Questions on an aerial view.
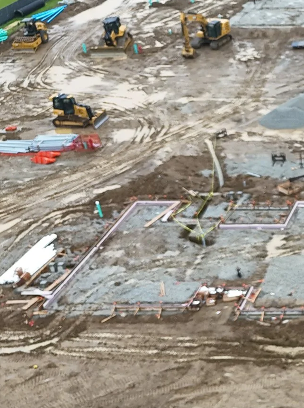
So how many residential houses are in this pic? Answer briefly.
0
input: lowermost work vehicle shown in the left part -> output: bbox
[45,84,110,126]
